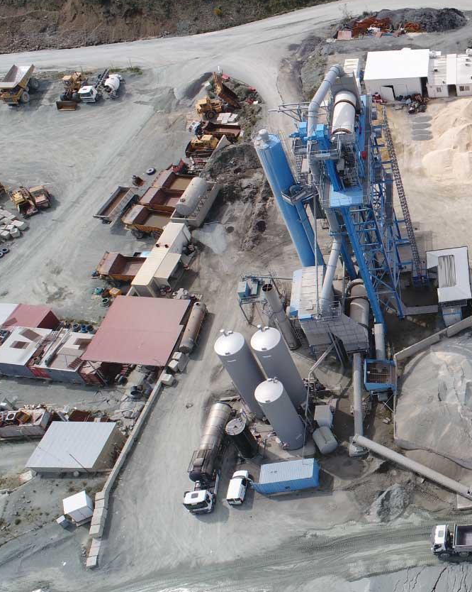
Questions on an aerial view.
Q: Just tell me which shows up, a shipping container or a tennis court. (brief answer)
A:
shipping container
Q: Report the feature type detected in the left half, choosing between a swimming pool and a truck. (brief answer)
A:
truck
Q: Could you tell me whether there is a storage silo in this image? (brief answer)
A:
Yes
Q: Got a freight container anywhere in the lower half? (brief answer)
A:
Yes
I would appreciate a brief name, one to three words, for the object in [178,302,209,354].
storage tank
